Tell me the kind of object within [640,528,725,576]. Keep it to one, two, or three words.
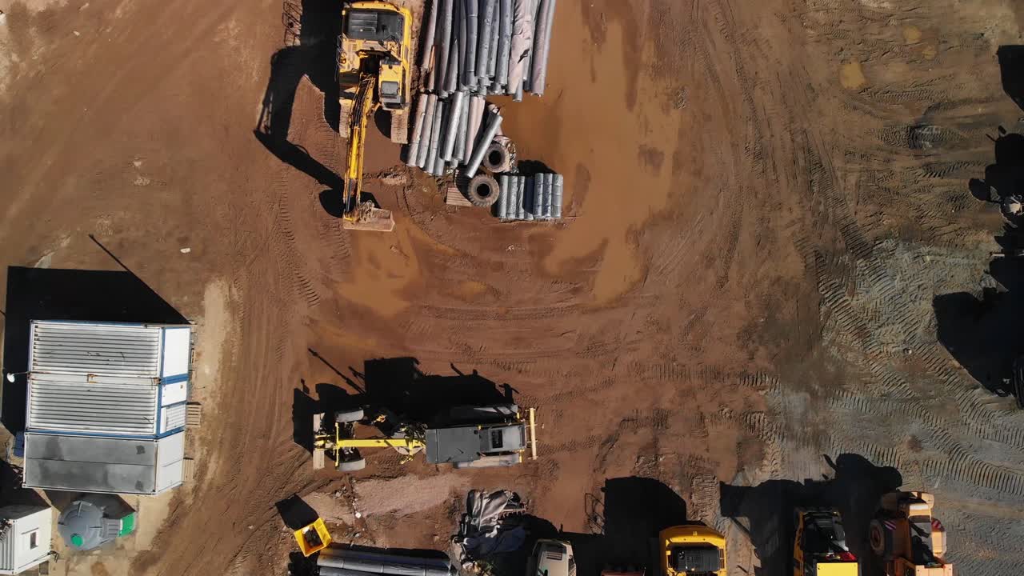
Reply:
work vehicle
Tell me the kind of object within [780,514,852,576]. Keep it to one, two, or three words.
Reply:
work vehicle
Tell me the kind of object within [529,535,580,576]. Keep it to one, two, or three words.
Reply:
truck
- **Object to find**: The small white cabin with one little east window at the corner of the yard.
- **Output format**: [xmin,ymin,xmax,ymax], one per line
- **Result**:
[0,506,58,575]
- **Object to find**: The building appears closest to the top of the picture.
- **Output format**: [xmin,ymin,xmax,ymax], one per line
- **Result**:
[30,319,192,381]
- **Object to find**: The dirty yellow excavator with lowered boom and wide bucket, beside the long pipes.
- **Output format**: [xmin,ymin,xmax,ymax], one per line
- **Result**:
[337,2,413,229]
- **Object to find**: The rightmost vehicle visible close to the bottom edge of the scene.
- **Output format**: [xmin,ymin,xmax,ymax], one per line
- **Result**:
[869,489,953,576]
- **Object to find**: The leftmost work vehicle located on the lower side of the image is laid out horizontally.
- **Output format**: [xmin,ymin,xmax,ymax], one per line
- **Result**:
[312,405,538,473]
